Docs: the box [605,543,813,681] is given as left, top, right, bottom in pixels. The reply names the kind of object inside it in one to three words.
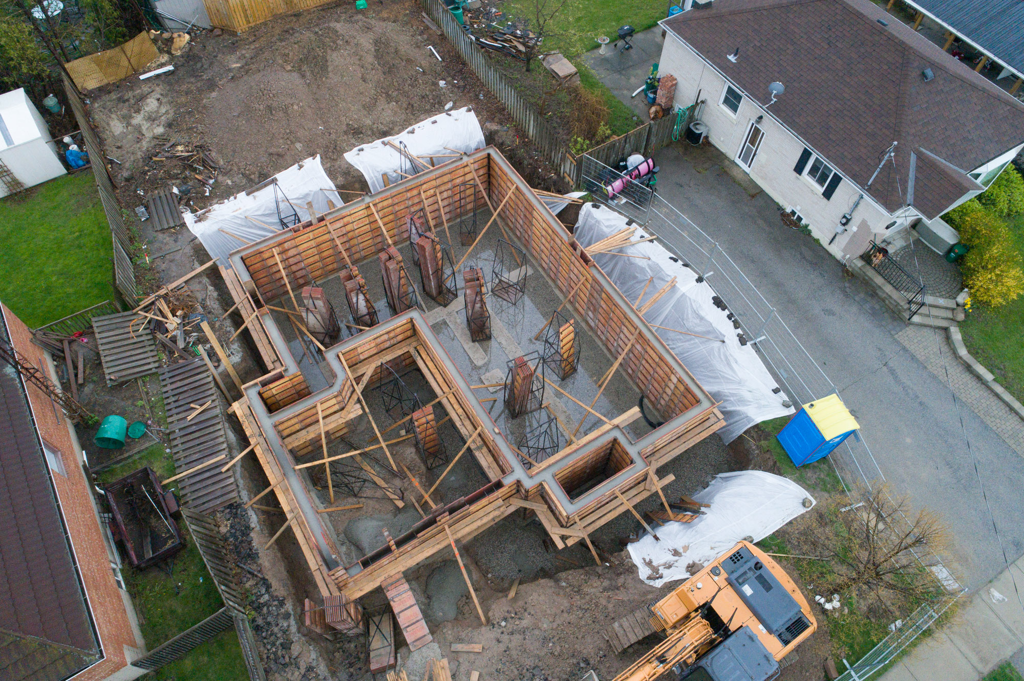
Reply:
work vehicle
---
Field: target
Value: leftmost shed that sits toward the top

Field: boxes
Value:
[0,88,67,197]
